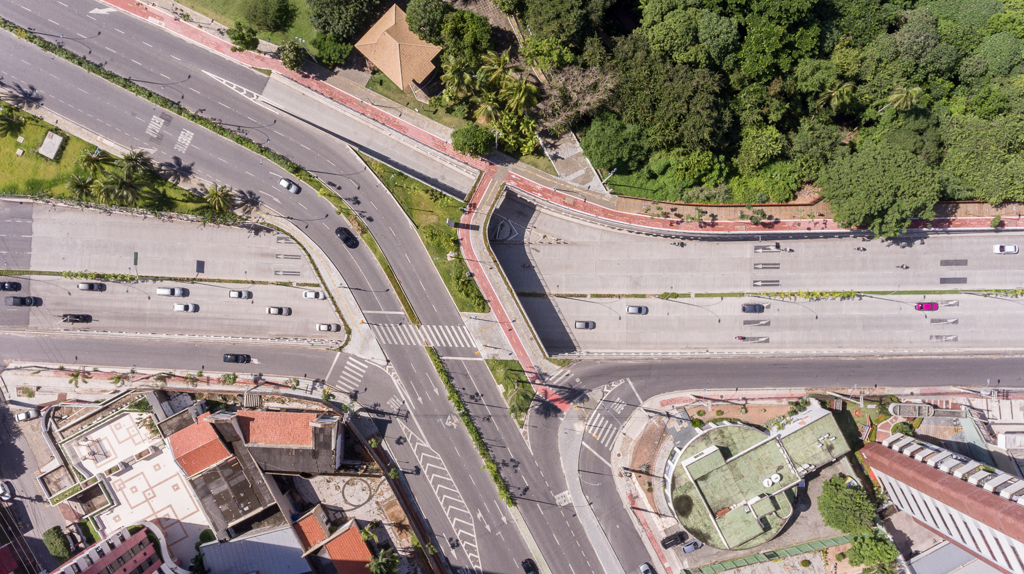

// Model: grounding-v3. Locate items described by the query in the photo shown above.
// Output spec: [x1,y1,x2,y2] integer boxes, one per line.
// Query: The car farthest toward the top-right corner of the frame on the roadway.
[992,243,1019,255]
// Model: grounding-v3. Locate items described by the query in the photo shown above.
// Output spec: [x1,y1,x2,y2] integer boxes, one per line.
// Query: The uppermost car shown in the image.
[277,176,300,194]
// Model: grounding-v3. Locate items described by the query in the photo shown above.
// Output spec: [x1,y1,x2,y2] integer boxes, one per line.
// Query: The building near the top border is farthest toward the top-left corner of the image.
[354,3,442,89]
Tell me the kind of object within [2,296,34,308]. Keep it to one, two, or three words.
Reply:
vehicle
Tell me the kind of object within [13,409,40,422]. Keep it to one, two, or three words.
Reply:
vehicle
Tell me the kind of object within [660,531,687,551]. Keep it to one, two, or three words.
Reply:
car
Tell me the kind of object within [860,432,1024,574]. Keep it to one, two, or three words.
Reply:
building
